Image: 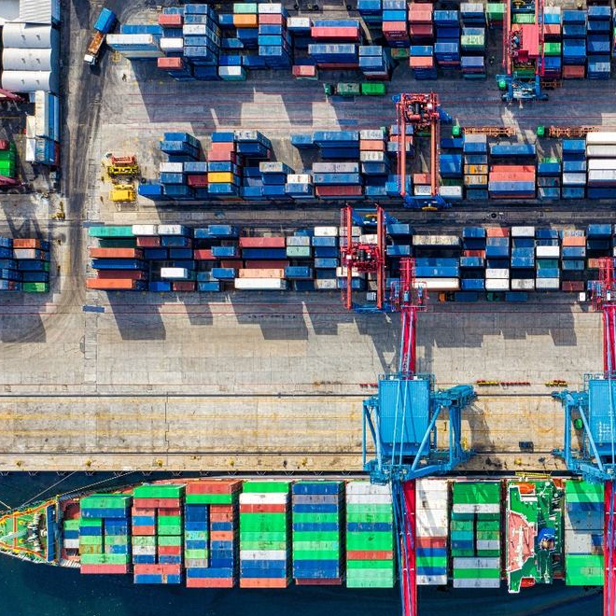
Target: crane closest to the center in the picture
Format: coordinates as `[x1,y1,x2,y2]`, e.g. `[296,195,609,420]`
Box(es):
[342,202,406,316]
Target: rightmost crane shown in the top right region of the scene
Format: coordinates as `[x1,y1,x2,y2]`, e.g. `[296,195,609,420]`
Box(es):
[502,0,547,104]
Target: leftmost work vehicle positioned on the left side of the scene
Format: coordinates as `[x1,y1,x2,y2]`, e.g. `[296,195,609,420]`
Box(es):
[54,203,66,219]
